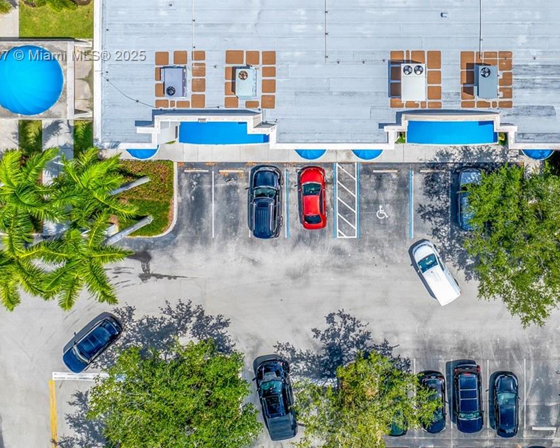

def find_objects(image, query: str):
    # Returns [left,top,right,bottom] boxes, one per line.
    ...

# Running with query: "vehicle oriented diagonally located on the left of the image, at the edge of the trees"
[66,315,124,368]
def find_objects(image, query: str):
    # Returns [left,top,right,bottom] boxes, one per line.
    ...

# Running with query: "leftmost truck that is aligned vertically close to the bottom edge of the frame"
[256,359,294,443]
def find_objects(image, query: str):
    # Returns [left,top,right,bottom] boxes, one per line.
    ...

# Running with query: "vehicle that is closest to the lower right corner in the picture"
[490,372,521,440]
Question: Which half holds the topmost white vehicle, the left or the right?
right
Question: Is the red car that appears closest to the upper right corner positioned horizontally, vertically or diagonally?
vertically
